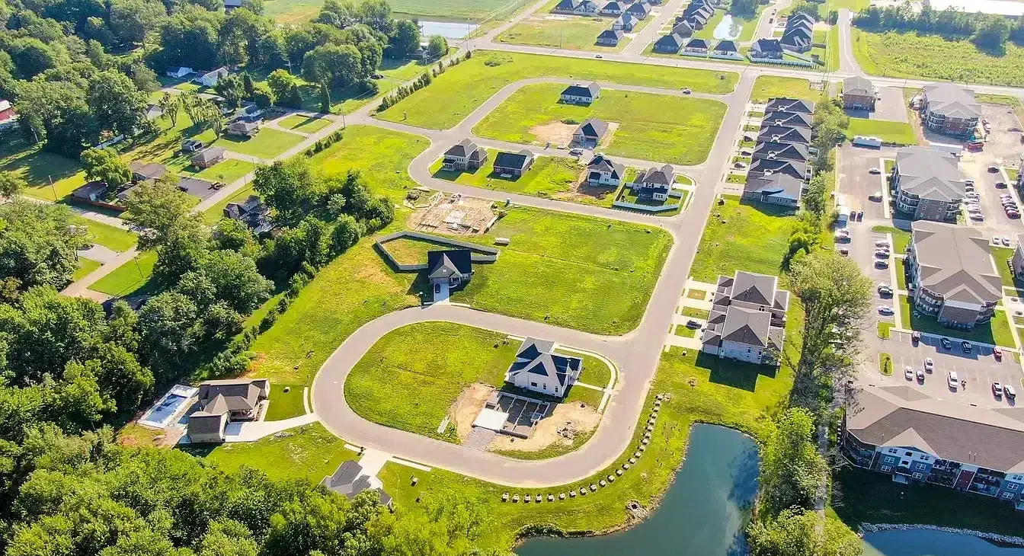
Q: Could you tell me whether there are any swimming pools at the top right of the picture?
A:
No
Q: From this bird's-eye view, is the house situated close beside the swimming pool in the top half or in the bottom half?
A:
bottom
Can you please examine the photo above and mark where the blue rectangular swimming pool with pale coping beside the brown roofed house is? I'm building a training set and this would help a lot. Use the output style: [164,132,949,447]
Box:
[145,394,188,424]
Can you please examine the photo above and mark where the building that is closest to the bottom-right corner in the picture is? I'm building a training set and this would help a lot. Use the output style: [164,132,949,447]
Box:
[839,376,1024,503]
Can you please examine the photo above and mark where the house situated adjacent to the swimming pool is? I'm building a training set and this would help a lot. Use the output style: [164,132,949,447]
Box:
[183,372,284,442]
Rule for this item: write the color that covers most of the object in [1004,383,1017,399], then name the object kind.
white vehicle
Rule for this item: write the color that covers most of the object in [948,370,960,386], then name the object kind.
white vehicle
